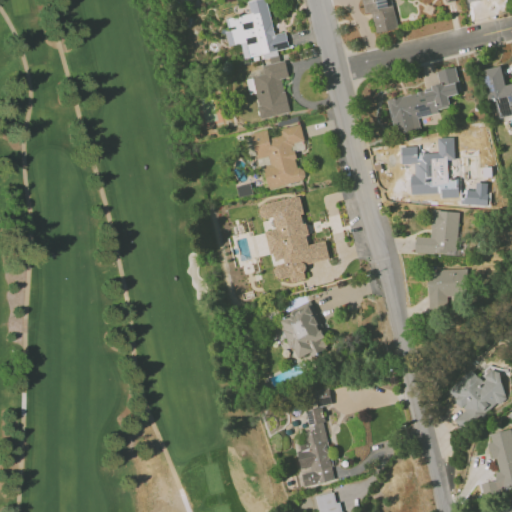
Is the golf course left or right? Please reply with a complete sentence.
The golf course is on the left side of the image.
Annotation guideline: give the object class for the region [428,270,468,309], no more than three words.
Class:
house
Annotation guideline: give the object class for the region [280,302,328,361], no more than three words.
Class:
house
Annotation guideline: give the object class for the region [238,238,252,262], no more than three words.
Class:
swimming pool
